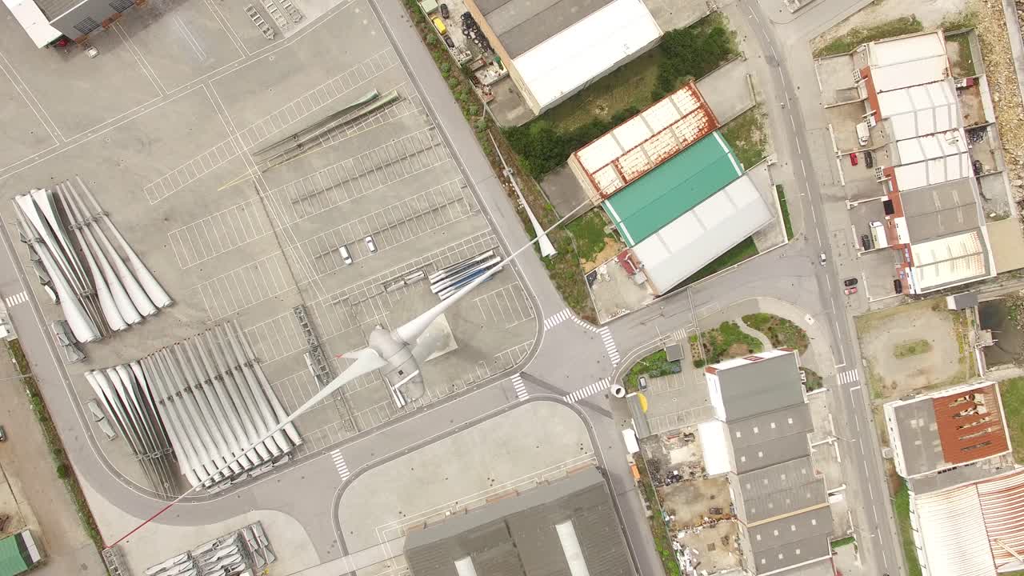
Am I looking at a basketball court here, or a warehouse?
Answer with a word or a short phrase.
warehouse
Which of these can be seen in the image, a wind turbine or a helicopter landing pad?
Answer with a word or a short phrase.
wind turbine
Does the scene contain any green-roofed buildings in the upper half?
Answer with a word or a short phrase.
Yes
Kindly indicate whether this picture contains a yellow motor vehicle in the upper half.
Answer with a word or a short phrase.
Yes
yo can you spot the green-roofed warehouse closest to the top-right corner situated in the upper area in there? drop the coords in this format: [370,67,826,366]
[597,130,744,248]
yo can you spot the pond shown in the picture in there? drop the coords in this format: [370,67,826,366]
[979,295,1024,373]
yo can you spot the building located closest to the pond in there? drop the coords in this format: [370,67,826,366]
[942,291,979,310]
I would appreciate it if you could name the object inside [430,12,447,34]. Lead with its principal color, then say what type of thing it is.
yellow vehicle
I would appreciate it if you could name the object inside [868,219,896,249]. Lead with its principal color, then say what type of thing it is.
white truck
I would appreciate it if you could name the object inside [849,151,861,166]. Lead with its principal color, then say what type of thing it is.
red vehicle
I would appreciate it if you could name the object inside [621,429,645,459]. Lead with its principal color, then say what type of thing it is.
white truck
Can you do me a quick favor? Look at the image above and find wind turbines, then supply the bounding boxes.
[119,180,626,542]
